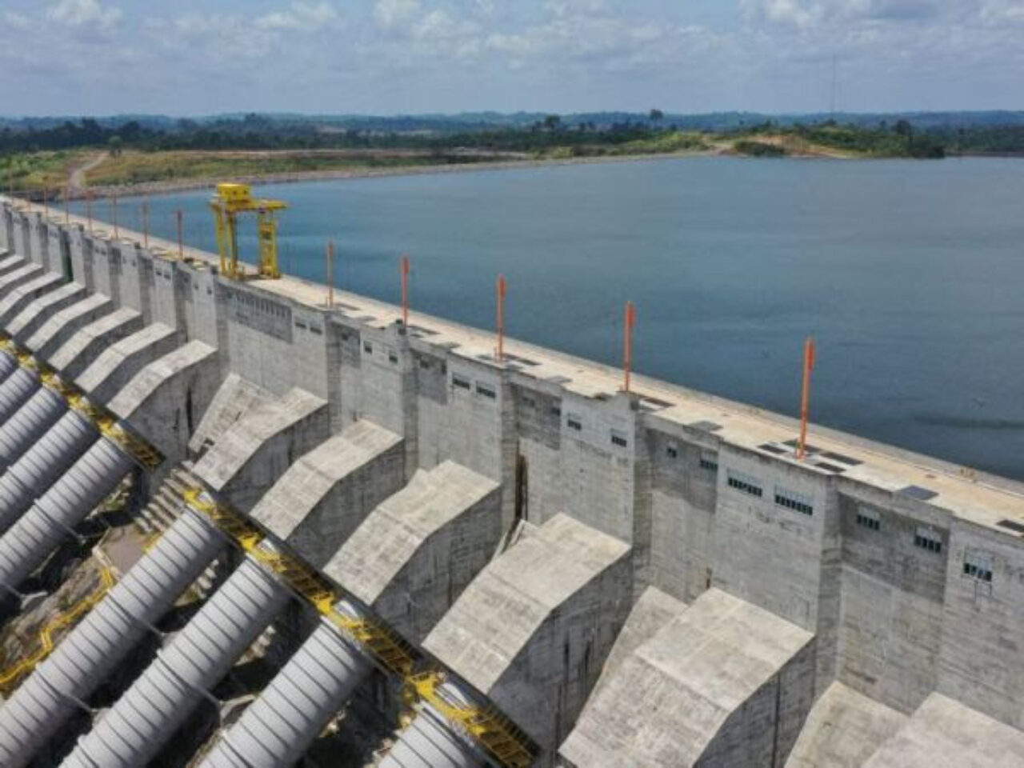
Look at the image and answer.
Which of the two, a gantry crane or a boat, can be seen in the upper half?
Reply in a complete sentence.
Visible in the upper half is a gantry crane.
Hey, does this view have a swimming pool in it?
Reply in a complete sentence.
No, I find no swimming pool anywhere in the image.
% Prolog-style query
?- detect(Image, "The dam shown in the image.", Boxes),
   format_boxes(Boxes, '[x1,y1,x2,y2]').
[0,193,1024,768]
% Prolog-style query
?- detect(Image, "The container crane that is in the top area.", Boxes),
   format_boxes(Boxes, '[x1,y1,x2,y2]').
[201,184,293,277]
